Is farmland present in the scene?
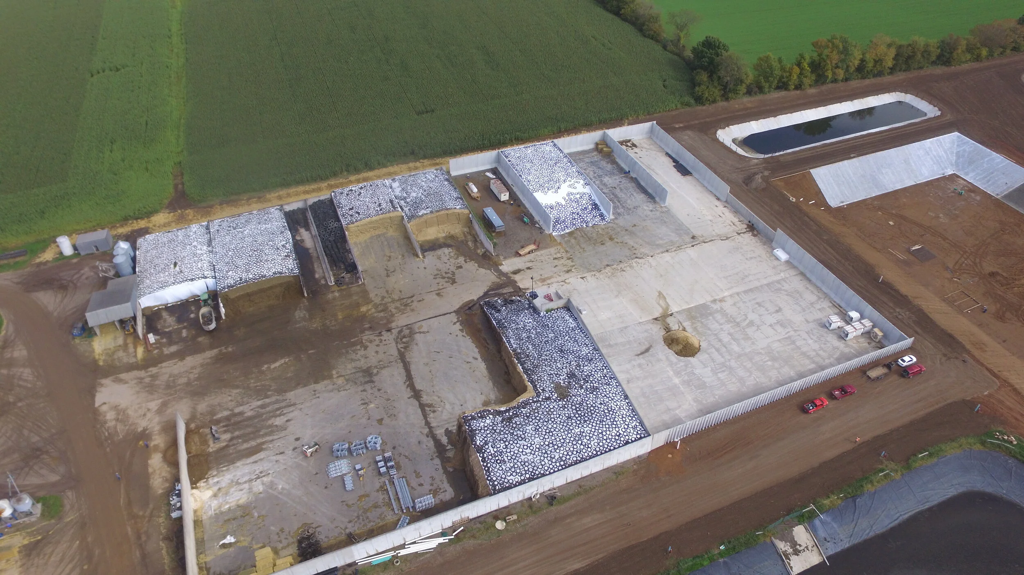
Yes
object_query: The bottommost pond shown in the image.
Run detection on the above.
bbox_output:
[681,446,1024,575]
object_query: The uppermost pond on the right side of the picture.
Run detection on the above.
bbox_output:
[717,91,945,158]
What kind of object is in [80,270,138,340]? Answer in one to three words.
shed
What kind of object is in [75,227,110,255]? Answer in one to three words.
shed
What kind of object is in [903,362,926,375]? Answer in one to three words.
vehicle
